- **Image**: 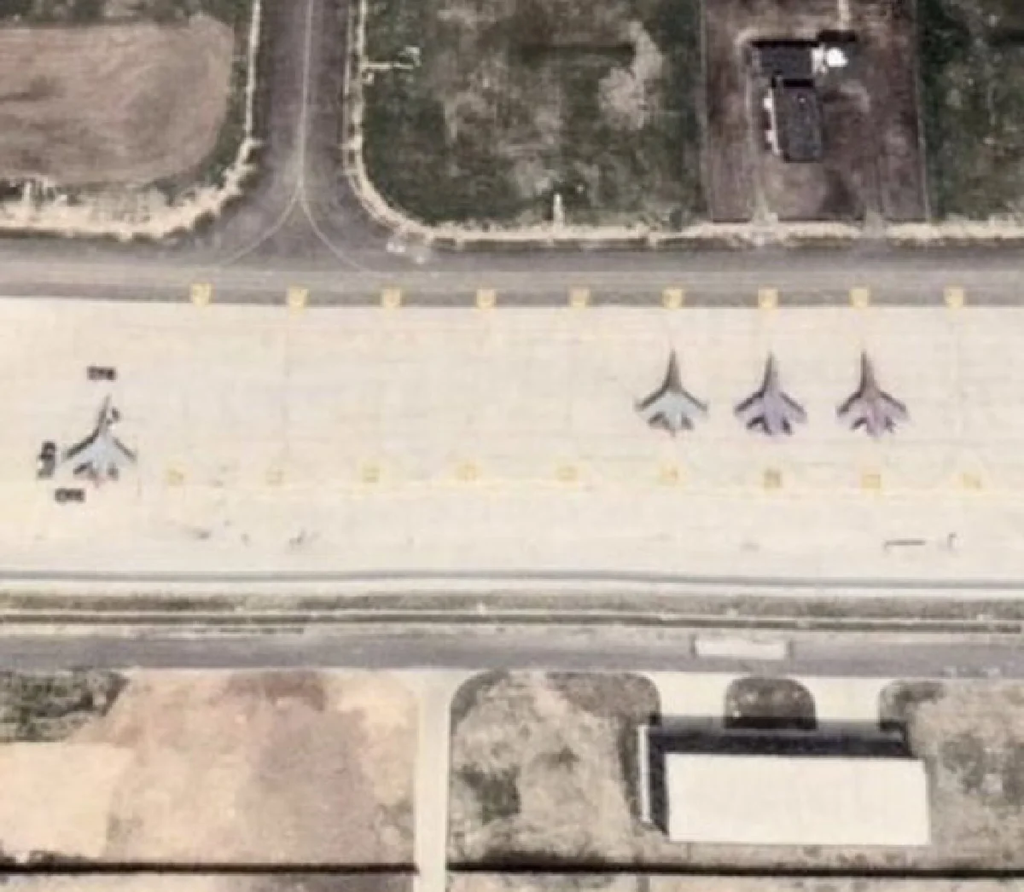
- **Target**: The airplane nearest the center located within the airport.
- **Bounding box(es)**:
[640,351,710,438]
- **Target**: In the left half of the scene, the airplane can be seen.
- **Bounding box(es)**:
[68,398,138,484]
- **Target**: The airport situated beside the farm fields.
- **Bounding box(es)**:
[0,0,1024,581]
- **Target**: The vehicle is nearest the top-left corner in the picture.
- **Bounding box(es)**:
[88,371,114,383]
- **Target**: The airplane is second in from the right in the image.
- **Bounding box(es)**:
[739,352,809,439]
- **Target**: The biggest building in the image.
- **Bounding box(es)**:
[651,734,930,846]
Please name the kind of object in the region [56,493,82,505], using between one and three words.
vehicle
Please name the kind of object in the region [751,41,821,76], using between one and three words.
building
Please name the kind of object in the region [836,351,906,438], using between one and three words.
airplane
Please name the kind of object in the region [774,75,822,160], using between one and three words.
building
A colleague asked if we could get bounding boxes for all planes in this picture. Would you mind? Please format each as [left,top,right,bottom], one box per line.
[836,351,906,438]
[640,351,710,438]
[68,398,138,484]
[739,352,809,439]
